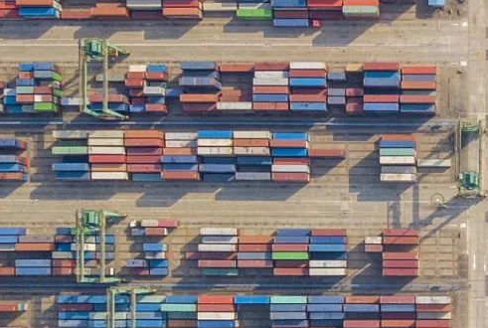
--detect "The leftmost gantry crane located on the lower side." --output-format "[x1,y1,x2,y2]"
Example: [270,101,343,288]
[75,205,129,284]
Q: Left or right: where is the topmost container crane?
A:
left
